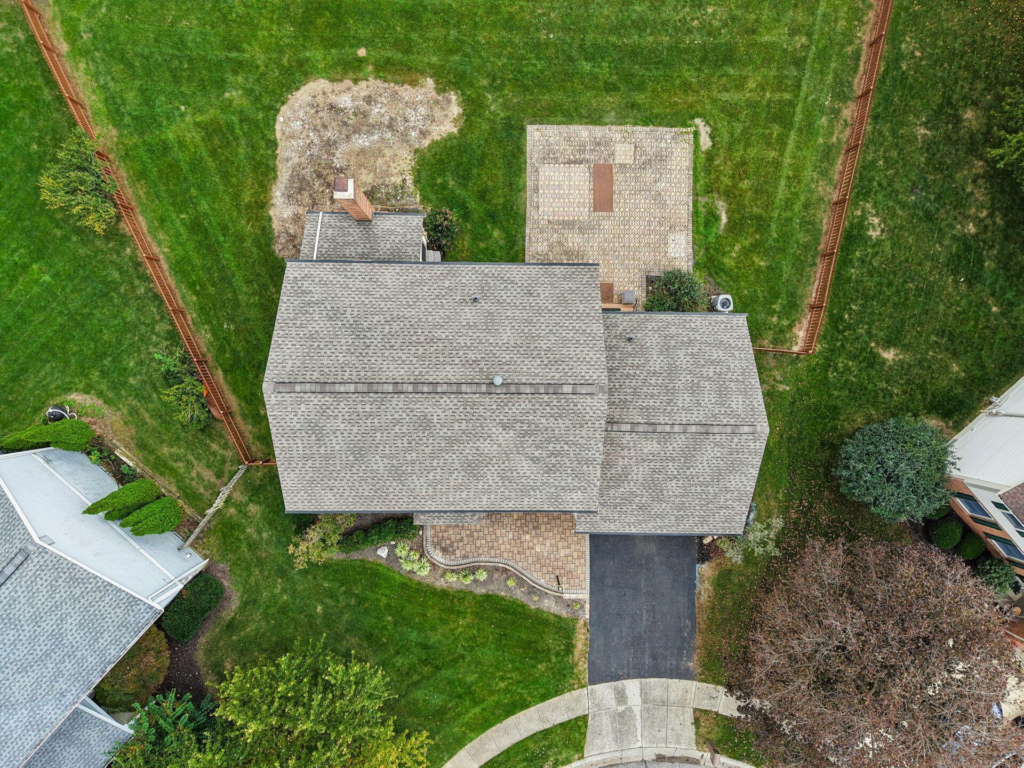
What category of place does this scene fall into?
residential area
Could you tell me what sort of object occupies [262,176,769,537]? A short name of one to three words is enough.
house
